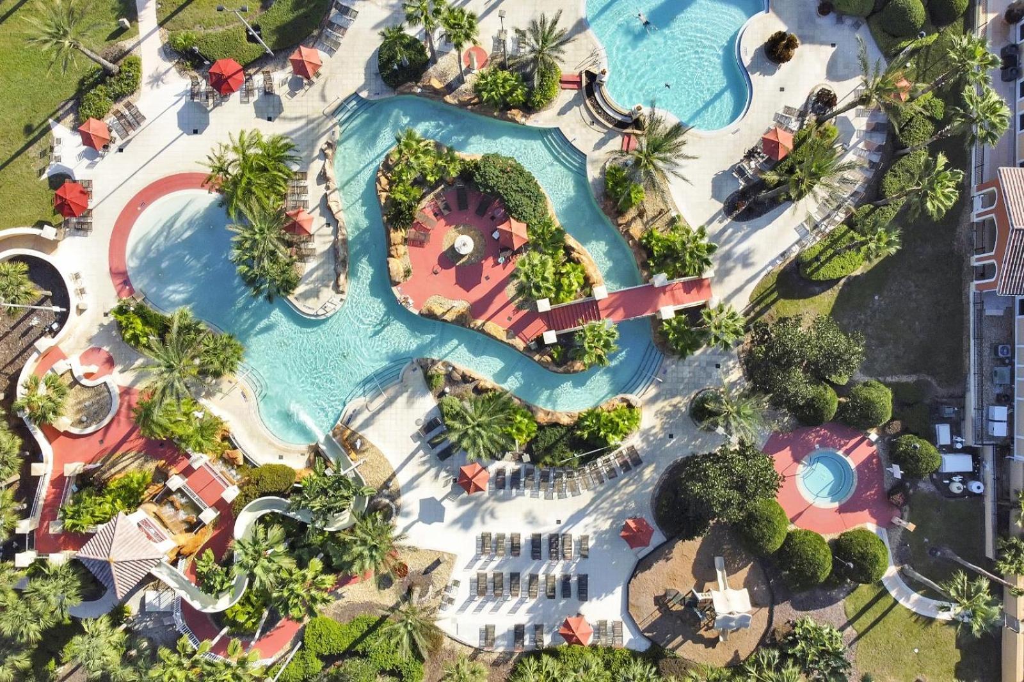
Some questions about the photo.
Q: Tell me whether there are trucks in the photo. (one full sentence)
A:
No, the photo shows no truck.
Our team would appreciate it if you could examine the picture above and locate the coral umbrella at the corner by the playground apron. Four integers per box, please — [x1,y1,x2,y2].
[619,514,652,547]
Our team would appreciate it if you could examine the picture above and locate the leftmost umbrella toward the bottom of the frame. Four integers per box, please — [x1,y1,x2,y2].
[459,459,489,494]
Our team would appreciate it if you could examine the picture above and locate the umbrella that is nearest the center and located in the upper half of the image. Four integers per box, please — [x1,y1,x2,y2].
[499,219,528,252]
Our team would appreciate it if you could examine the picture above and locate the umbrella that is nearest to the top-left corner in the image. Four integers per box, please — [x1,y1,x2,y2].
[82,120,118,152]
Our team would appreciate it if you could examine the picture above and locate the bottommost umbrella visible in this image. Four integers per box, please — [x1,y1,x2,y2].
[557,611,592,643]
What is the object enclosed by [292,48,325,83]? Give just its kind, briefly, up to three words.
umbrella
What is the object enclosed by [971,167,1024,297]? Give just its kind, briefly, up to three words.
building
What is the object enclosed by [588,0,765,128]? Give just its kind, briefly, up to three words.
swimming pool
